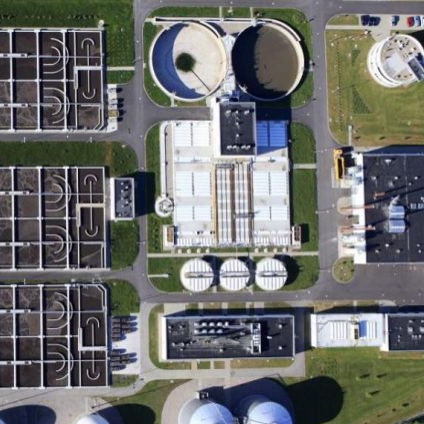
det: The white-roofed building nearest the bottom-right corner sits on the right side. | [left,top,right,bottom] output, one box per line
[311,312,385,347]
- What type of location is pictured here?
industrial area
